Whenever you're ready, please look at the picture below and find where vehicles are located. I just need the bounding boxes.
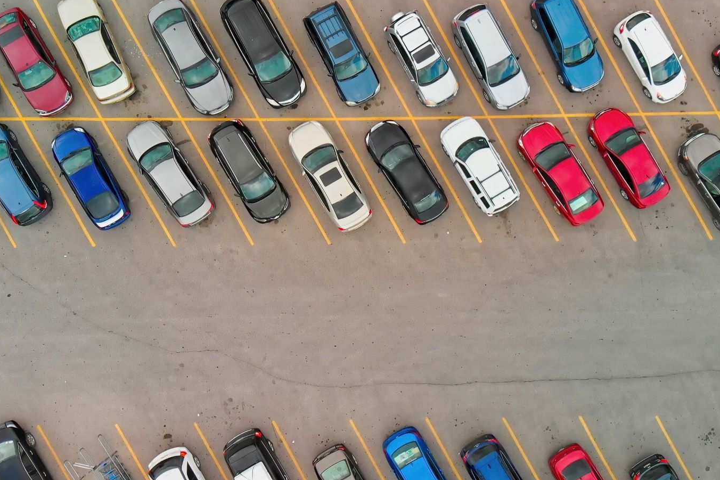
[439,116,524,219]
[55,0,137,106]
[146,0,234,116]
[384,9,460,108]
[218,0,306,110]
[613,11,688,104]
[678,134,720,227]
[383,425,446,480]
[52,129,133,230]
[125,121,214,228]
[529,0,603,93]
[0,6,71,117]
[589,108,674,209]
[0,126,54,227]
[366,122,451,225]
[149,446,203,480]
[0,421,54,480]
[289,124,374,232]
[224,427,287,480]
[547,443,601,480]
[627,452,679,480]
[302,0,380,107]
[520,123,607,228]
[313,444,366,480]
[205,118,290,224]
[451,4,530,109]
[459,432,520,480]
